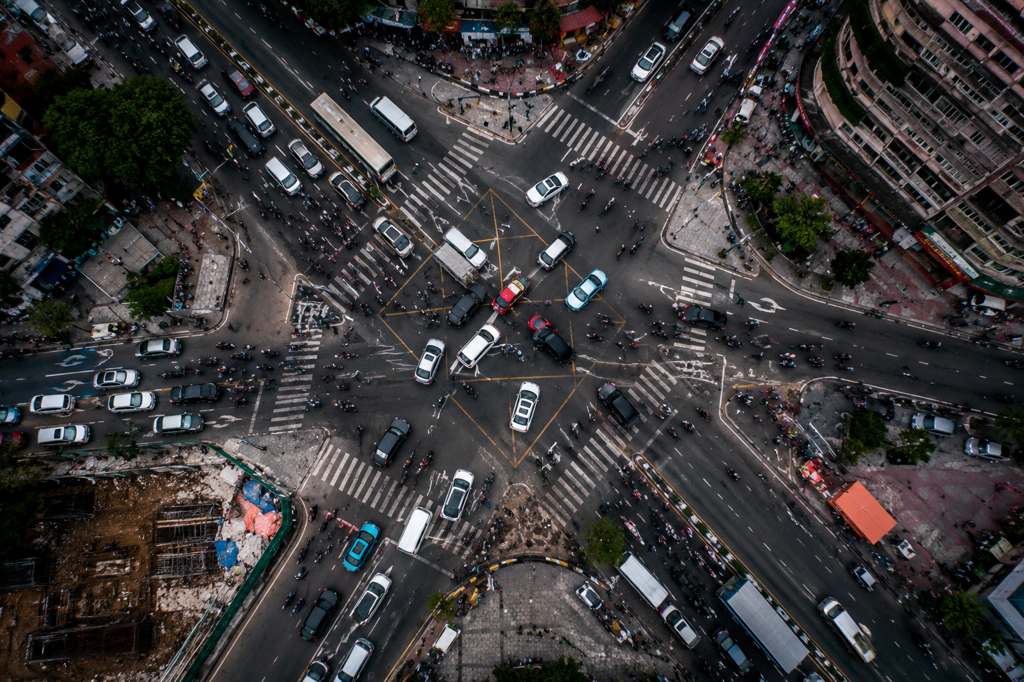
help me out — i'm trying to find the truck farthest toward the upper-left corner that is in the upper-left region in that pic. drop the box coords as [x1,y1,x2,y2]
[10,0,58,31]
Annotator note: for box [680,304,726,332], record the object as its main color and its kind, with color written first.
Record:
black car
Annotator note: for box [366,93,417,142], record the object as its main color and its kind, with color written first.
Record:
white van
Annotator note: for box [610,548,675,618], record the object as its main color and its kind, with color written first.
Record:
white truck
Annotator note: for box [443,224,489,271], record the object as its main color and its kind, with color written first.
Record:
white van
